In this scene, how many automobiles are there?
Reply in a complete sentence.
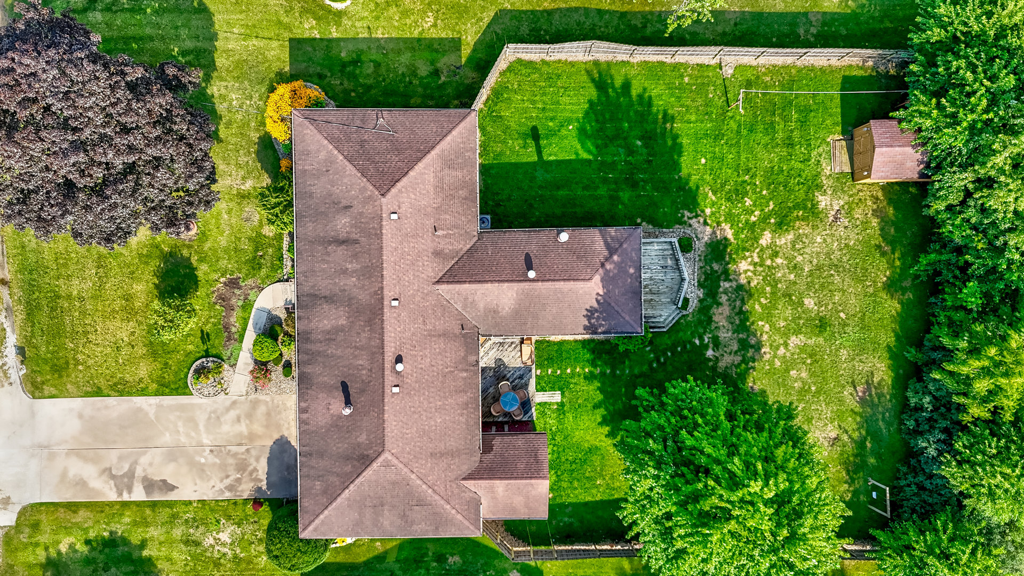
There are no automobiles in the image.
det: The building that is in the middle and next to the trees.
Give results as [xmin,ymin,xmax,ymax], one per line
[291,107,645,540]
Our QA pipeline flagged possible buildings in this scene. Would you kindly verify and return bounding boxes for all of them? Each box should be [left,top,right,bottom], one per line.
[291,107,645,540]
[853,121,943,181]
